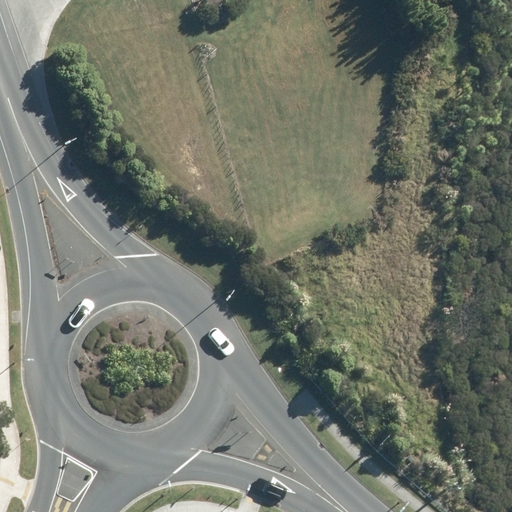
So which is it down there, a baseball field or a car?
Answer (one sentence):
It is a car that can be seen here.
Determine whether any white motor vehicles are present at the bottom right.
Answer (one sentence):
No, no white motor vehicle can be made out at the bottom right.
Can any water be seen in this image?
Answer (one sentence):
No, there is no water in the image.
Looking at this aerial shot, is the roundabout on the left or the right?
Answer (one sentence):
You can find the roundabout on the left side of the picture.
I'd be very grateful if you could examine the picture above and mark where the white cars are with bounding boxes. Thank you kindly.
[69,298,94,328]
[208,327,234,355]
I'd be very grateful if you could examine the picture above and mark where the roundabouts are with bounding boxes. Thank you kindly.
[28,261,240,473]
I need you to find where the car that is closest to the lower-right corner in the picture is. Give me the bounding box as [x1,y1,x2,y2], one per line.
[251,477,286,500]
